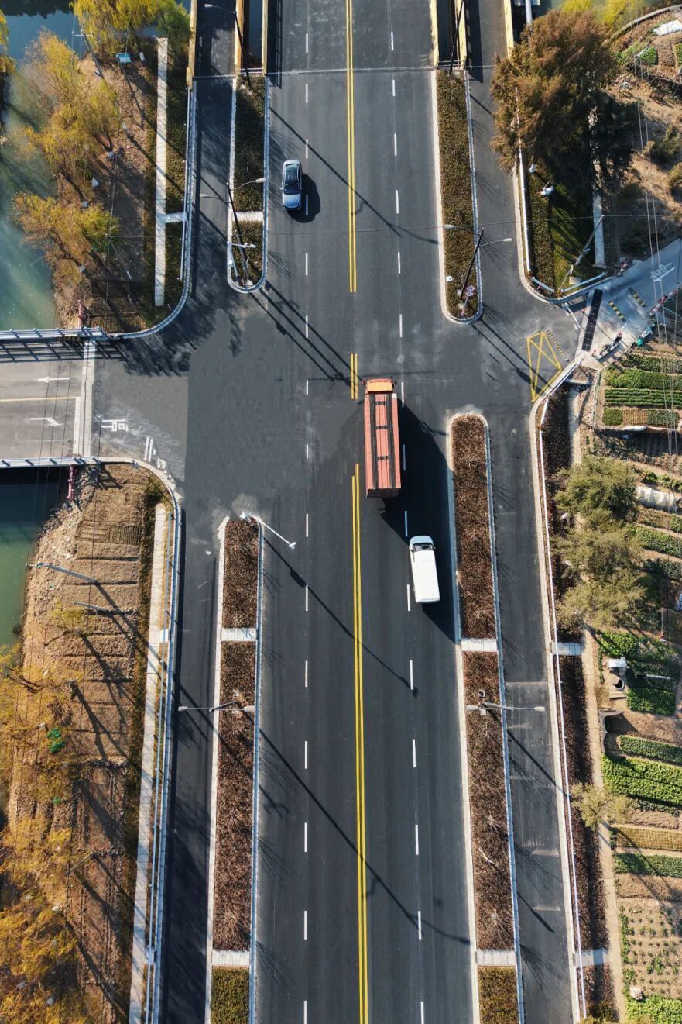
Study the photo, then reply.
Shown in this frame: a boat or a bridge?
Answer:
bridge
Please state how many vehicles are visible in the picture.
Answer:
3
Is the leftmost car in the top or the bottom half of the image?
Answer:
top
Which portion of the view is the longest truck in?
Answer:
center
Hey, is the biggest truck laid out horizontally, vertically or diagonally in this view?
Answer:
vertically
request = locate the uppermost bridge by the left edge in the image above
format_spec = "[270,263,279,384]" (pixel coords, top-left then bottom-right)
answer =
[0,329,102,469]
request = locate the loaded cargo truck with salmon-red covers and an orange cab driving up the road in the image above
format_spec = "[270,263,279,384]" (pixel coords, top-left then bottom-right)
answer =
[362,377,401,501]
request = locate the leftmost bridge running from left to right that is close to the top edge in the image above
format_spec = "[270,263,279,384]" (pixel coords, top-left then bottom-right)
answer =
[261,0,438,79]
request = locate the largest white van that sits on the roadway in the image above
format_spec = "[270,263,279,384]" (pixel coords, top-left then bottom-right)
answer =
[409,538,439,606]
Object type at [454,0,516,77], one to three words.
bridge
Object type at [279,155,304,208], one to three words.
car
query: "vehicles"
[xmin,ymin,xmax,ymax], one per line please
[409,538,439,606]
[279,155,304,208]
[362,377,401,501]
